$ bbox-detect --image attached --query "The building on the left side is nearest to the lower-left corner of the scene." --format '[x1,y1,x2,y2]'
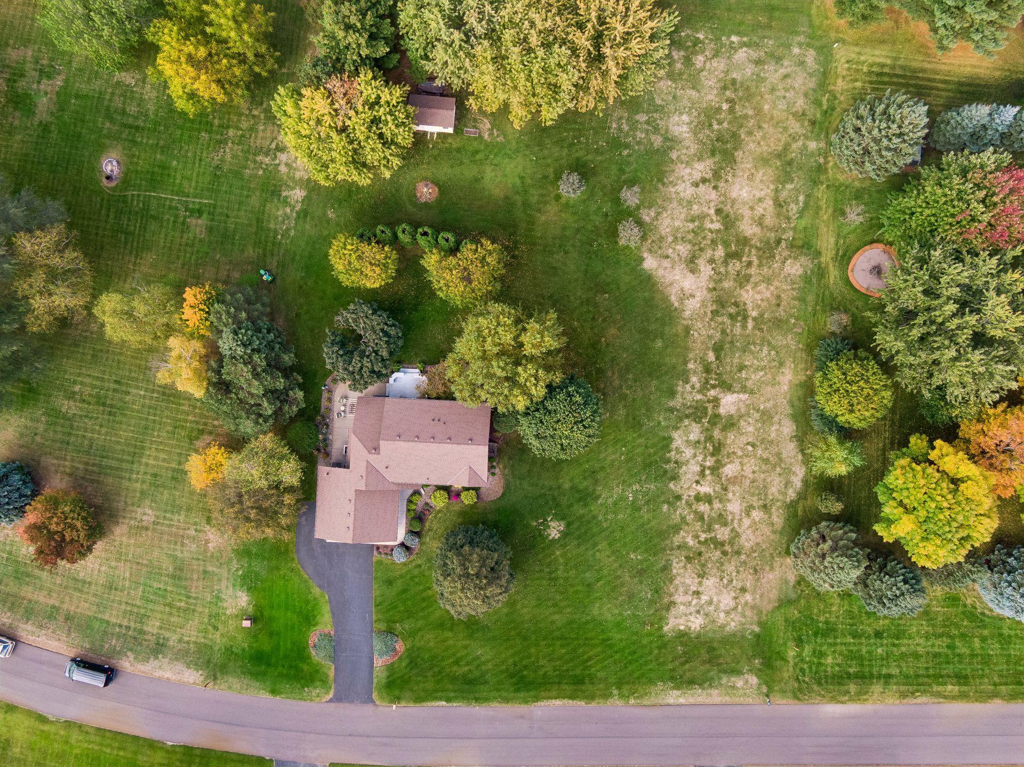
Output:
[314,396,491,544]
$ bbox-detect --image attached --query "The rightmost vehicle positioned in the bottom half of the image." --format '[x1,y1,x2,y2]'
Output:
[64,658,117,691]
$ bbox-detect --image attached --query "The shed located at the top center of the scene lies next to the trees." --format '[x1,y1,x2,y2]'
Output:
[409,94,456,134]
